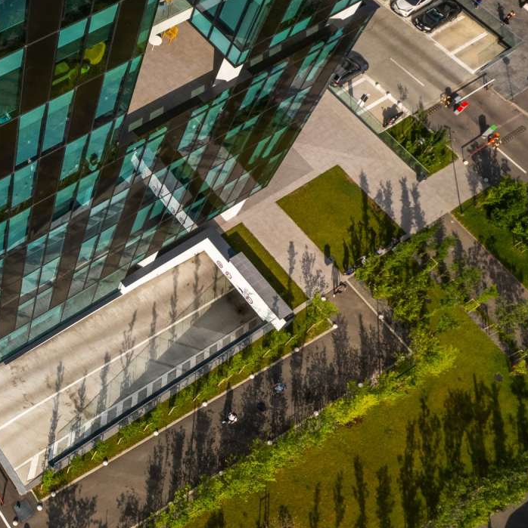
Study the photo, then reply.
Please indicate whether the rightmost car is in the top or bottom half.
top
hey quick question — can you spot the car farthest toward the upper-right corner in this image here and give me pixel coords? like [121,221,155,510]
[416,0,459,32]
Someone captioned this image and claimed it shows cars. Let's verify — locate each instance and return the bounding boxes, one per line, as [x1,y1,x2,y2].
[416,0,459,32]
[393,0,431,17]
[331,53,369,87]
